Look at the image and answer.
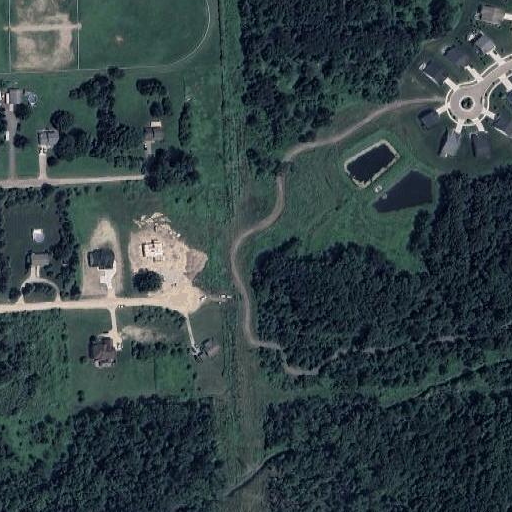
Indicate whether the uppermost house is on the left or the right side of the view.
right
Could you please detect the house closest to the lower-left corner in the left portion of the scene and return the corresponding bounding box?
[90,337,115,365]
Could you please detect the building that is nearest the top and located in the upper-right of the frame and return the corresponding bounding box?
[479,5,506,26]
